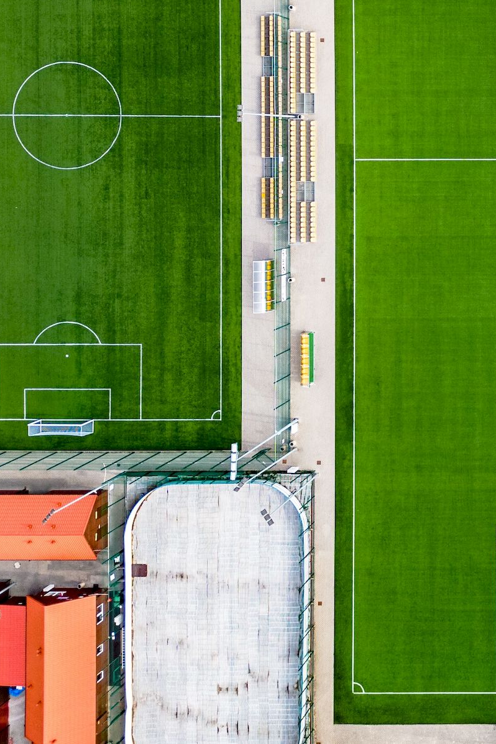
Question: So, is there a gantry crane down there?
No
